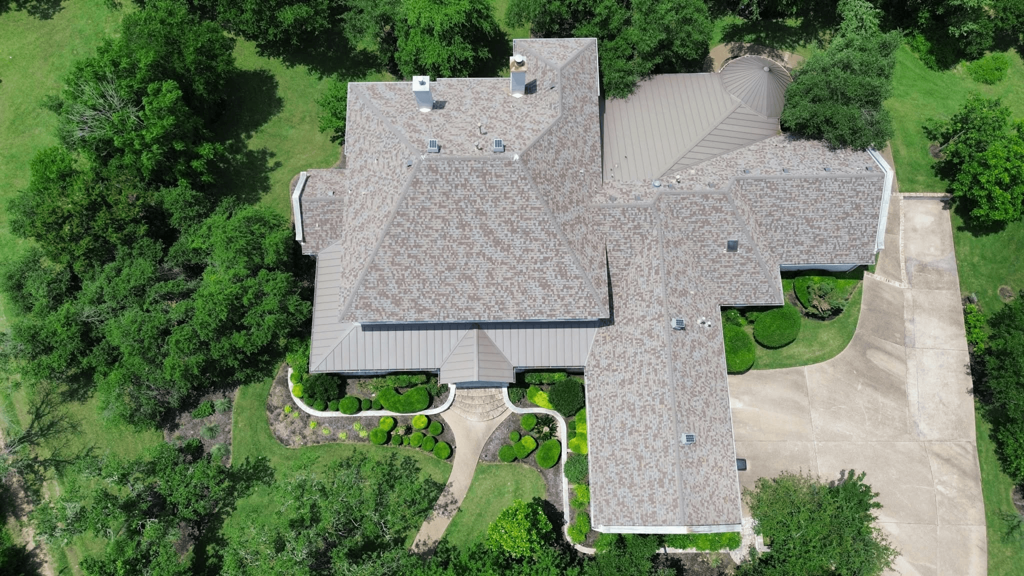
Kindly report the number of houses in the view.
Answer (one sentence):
In total, there is 1 house in the scene.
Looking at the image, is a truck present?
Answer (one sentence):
No, there isn't any truck down there.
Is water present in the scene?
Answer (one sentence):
No, there is no water in the image.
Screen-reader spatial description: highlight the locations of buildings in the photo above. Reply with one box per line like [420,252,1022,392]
[292,37,892,534]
